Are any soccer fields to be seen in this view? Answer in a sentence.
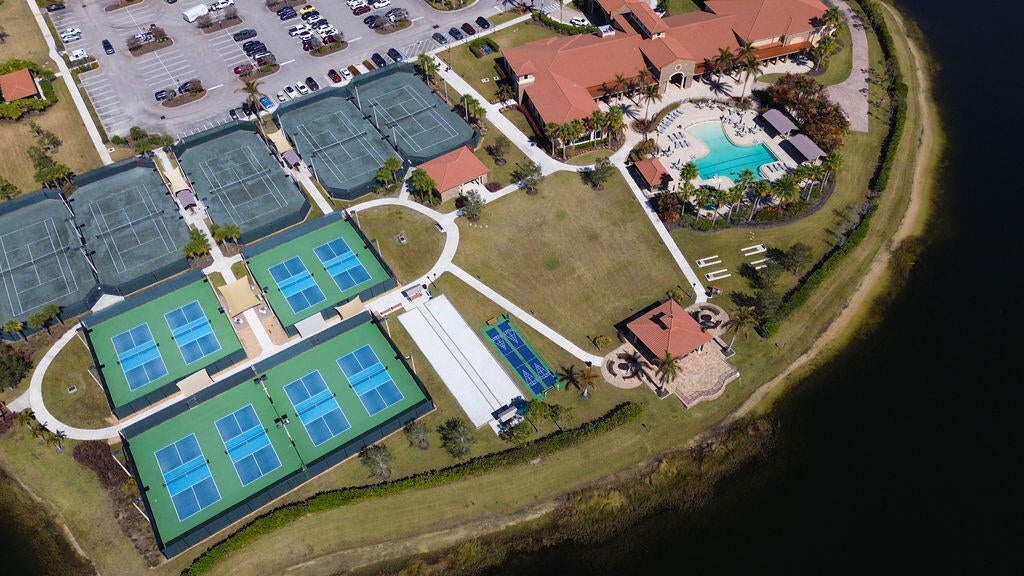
No, the scene contains no soccer field.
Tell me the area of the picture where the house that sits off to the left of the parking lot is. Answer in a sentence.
You can find the house that sits off to the left of the parking lot in the top left area of the picture.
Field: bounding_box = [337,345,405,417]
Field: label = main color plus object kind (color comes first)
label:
blue sports court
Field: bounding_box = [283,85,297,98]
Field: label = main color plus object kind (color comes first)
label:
white vehicle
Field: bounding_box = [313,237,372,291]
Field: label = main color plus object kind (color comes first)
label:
blue sports court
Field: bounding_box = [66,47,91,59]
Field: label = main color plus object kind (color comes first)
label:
white vehicle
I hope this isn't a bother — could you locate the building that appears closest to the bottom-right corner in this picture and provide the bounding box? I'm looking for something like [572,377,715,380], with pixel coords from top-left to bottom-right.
[627,299,712,369]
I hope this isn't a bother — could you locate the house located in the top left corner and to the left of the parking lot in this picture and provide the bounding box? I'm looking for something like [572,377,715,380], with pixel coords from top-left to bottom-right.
[0,68,40,109]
